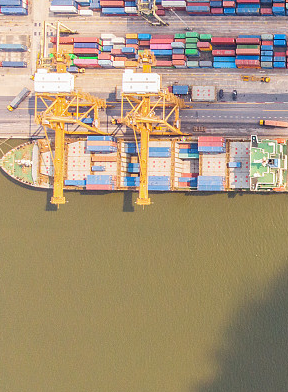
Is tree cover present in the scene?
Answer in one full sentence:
No, no tree cover is visible.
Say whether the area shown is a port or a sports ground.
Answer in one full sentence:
The picture captures a port.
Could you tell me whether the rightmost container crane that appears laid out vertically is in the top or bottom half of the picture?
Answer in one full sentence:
You can find the rightmost container crane that appears laid out vertically in the top half.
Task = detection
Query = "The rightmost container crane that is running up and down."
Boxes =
[123,51,195,208]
